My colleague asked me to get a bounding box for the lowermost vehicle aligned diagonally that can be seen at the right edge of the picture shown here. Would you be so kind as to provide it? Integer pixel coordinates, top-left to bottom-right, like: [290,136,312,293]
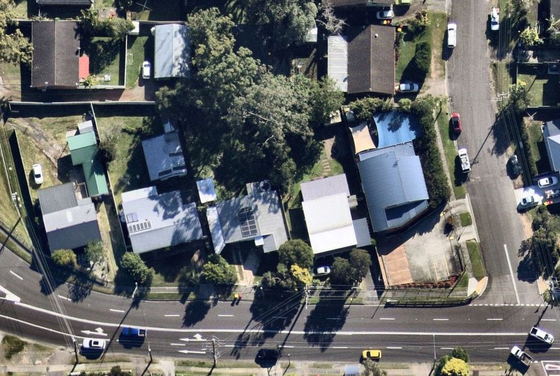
[510,346,535,367]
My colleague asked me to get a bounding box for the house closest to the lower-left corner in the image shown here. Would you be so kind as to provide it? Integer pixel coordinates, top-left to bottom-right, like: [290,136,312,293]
[37,182,101,252]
